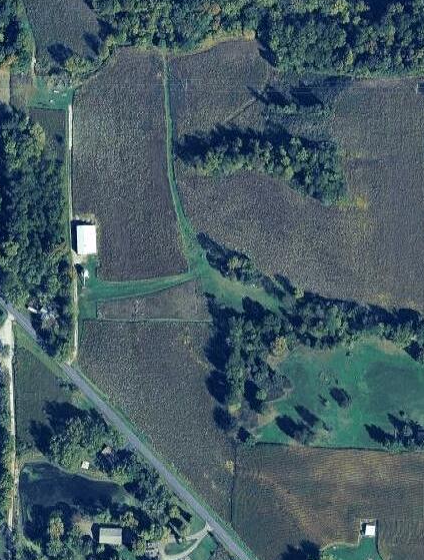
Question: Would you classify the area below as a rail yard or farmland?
farmland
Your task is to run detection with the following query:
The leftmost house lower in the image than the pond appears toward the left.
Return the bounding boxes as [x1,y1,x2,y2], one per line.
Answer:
[98,528,121,543]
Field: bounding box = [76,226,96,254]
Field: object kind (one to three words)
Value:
barn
